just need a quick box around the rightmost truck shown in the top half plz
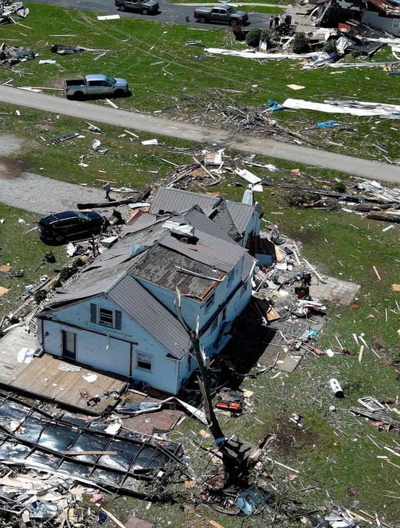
[191,1,247,25]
